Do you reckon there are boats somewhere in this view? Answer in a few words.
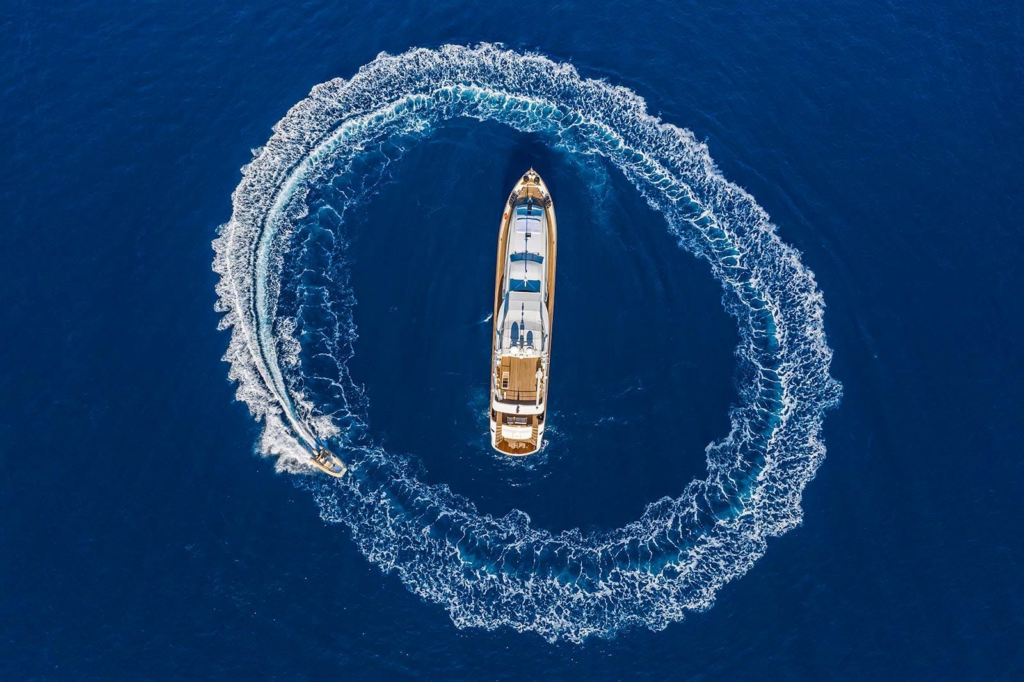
Yes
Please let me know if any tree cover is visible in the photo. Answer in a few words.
No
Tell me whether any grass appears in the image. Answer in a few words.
No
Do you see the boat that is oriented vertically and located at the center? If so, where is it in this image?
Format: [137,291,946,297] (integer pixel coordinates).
[490,166,558,456]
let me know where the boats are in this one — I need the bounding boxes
[490,166,558,456]
[311,444,347,475]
